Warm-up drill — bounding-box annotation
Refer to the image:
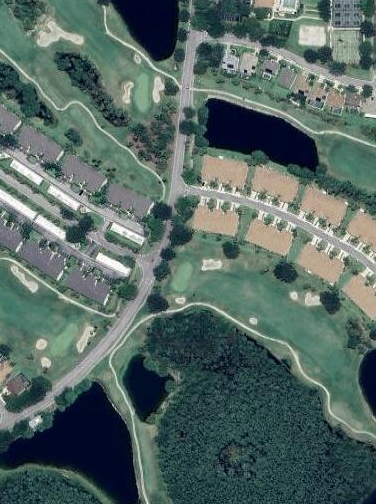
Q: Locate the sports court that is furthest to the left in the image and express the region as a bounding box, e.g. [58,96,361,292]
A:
[299,25,325,46]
